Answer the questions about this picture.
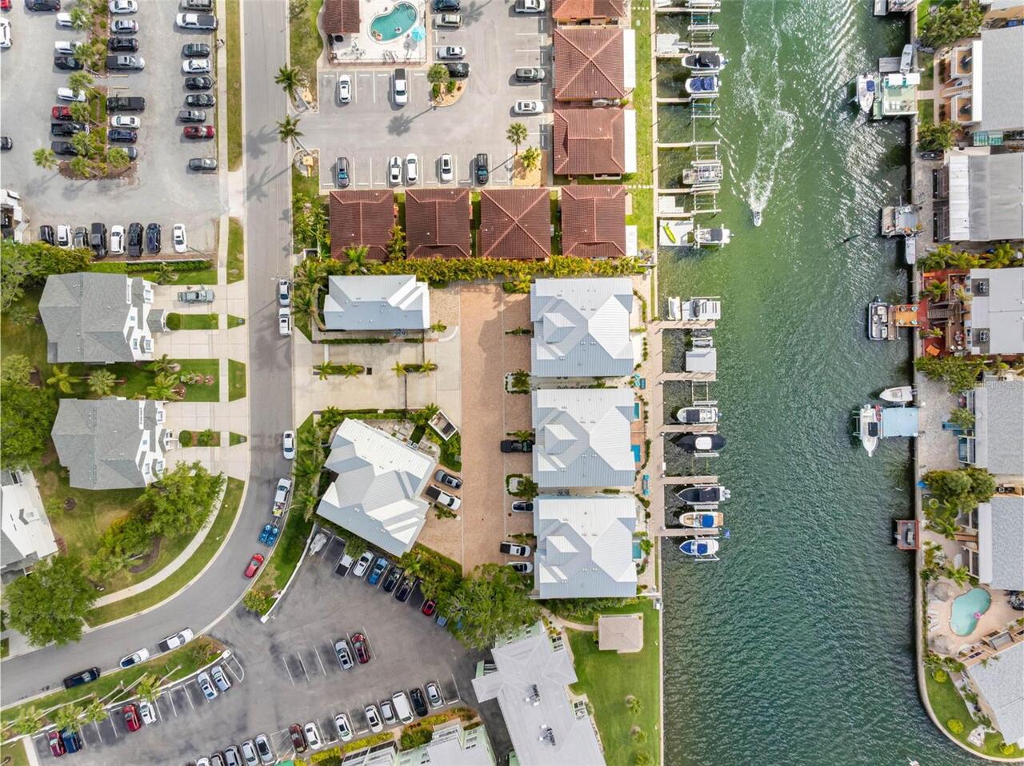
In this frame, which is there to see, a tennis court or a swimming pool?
swimming pool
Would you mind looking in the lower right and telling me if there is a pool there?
Yes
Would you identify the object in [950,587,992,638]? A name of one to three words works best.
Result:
swimming pool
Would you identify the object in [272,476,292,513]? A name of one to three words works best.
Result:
vehicle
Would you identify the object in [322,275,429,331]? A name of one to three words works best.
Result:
house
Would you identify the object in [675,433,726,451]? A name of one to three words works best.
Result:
boat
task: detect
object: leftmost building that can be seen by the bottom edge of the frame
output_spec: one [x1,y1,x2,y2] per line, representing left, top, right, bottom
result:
[342,726,413,766]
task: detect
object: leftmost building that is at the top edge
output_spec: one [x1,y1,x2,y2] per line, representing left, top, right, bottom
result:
[325,0,361,40]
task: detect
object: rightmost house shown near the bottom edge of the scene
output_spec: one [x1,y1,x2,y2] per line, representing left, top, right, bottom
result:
[952,619,1024,744]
